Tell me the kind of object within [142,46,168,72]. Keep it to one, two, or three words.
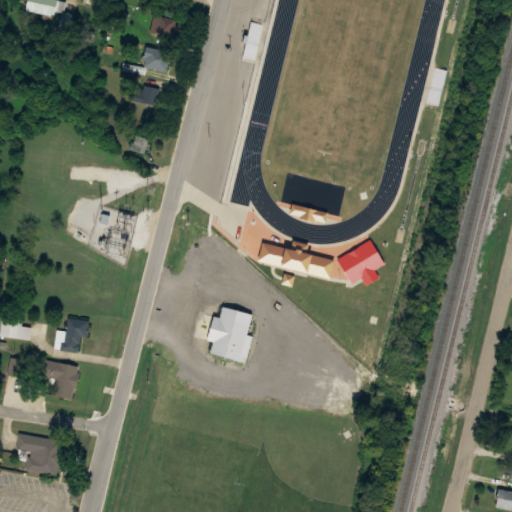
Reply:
house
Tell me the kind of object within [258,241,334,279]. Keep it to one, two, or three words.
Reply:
building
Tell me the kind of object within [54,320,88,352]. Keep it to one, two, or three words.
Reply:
house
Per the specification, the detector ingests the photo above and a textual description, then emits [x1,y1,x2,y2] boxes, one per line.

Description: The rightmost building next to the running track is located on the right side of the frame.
[338,240,385,286]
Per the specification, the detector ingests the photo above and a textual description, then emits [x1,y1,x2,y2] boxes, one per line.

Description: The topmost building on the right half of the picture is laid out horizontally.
[290,204,328,224]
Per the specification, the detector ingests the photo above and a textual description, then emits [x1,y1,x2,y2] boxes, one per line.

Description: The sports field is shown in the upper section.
[260,0,426,226]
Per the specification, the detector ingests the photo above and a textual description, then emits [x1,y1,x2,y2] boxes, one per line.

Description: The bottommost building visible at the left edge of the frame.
[16,434,58,476]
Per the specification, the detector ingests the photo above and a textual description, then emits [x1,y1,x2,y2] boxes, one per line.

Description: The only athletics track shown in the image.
[230,0,444,244]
